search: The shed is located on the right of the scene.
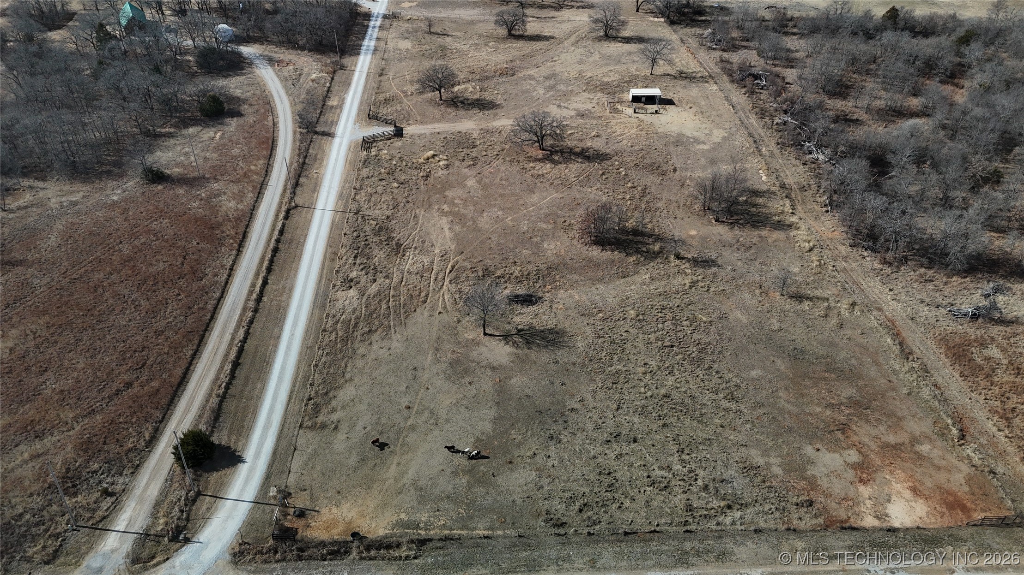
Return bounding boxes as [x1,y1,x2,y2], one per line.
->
[629,84,664,102]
